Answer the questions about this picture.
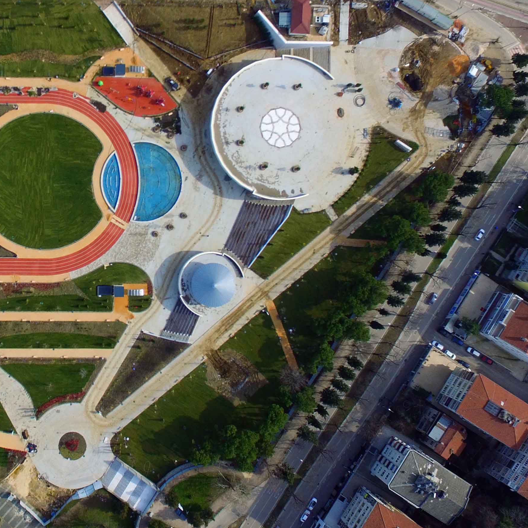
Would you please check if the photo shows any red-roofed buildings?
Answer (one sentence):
Yes, the picture does show a red-roofed building.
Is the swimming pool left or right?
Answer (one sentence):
You can find the swimming pool on the left side of the picture.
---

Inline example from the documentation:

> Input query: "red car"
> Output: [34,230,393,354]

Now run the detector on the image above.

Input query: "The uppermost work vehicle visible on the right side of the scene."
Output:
[481,55,496,73]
